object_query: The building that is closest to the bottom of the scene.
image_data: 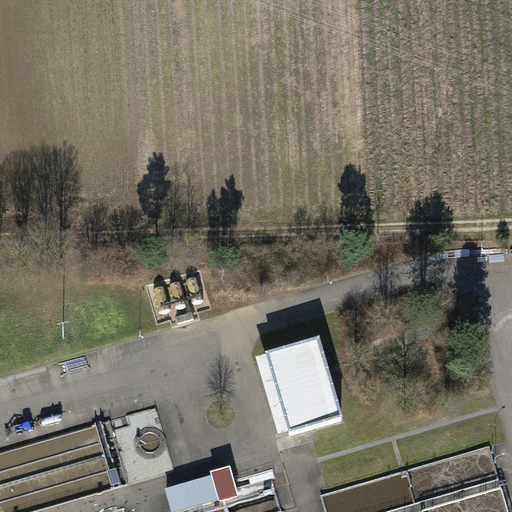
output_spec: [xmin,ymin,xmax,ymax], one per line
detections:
[166,466,238,512]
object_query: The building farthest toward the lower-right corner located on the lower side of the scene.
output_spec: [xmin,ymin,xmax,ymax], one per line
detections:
[256,336,342,438]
